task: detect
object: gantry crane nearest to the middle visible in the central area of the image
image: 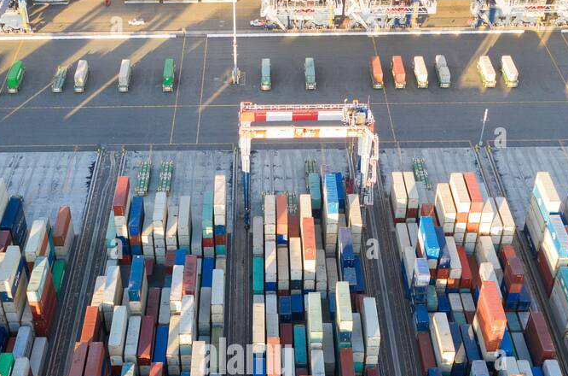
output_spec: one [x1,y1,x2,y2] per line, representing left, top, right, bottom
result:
[235,94,372,219]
